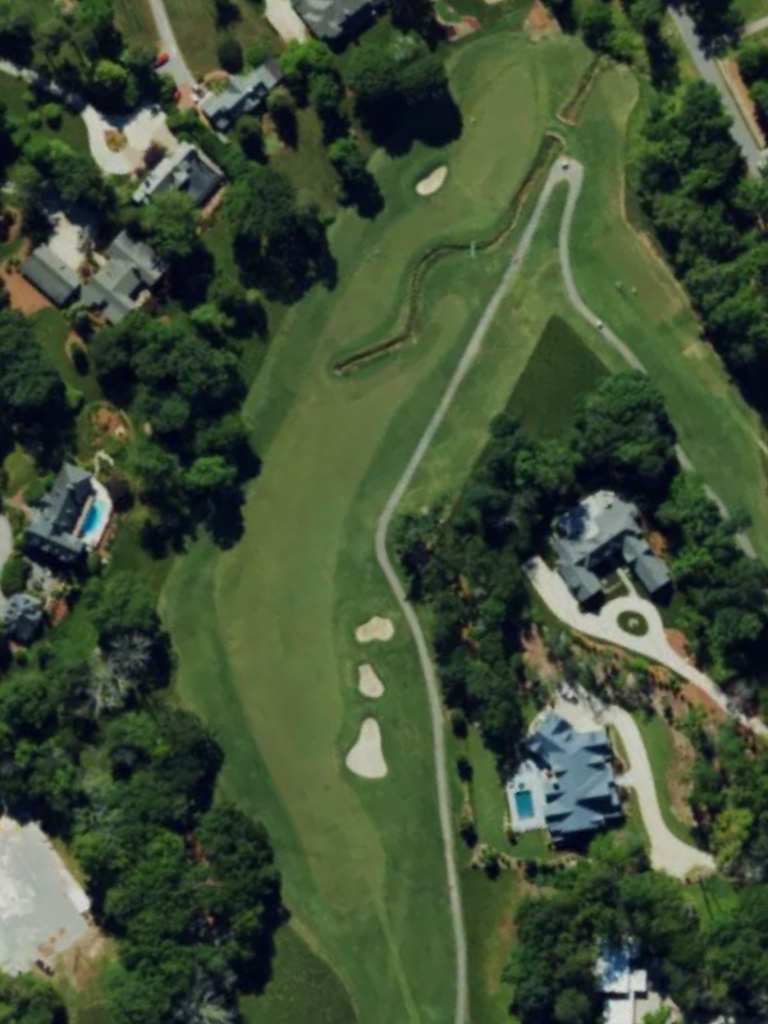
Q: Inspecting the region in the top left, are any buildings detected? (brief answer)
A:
Yes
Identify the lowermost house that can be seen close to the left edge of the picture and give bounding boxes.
[0,592,47,638]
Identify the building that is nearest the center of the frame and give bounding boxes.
[545,493,676,599]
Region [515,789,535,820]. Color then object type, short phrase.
blue swimming pool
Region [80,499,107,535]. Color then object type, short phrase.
blue swimming pool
